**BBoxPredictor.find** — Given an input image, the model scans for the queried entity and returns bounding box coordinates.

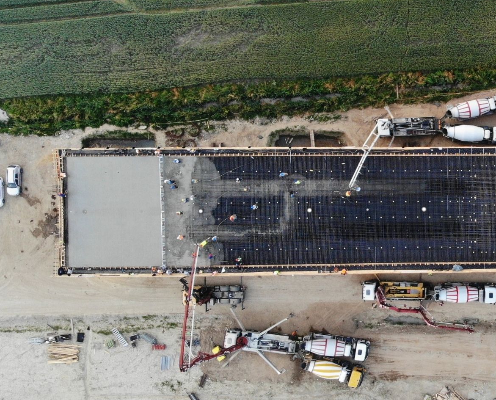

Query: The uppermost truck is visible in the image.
[444,95,496,123]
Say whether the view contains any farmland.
Yes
